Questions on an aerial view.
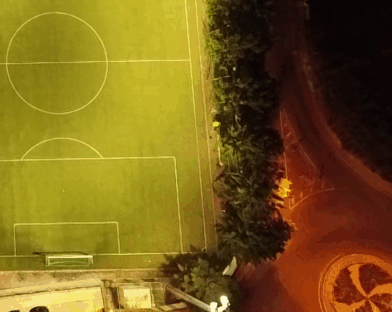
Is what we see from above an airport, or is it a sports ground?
sports ground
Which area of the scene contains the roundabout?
bottom right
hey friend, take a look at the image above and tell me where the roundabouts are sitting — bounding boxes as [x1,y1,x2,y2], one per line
[321,251,392,312]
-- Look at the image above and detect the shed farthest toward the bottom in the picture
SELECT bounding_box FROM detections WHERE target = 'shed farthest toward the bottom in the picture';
[120,286,153,309]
